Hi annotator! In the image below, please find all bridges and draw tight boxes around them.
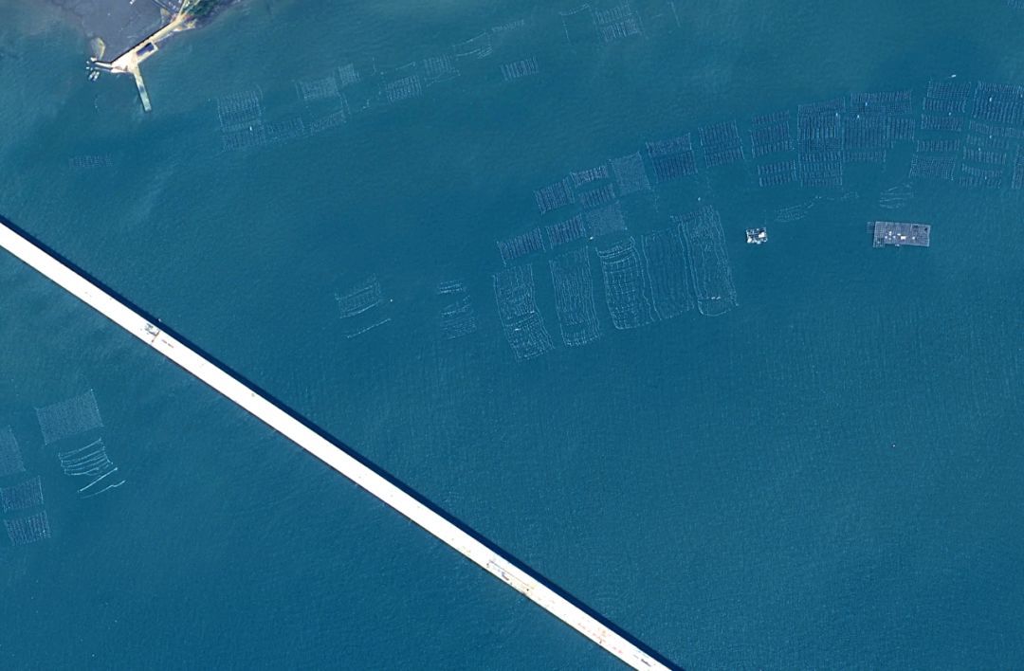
[0,222,671,671]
